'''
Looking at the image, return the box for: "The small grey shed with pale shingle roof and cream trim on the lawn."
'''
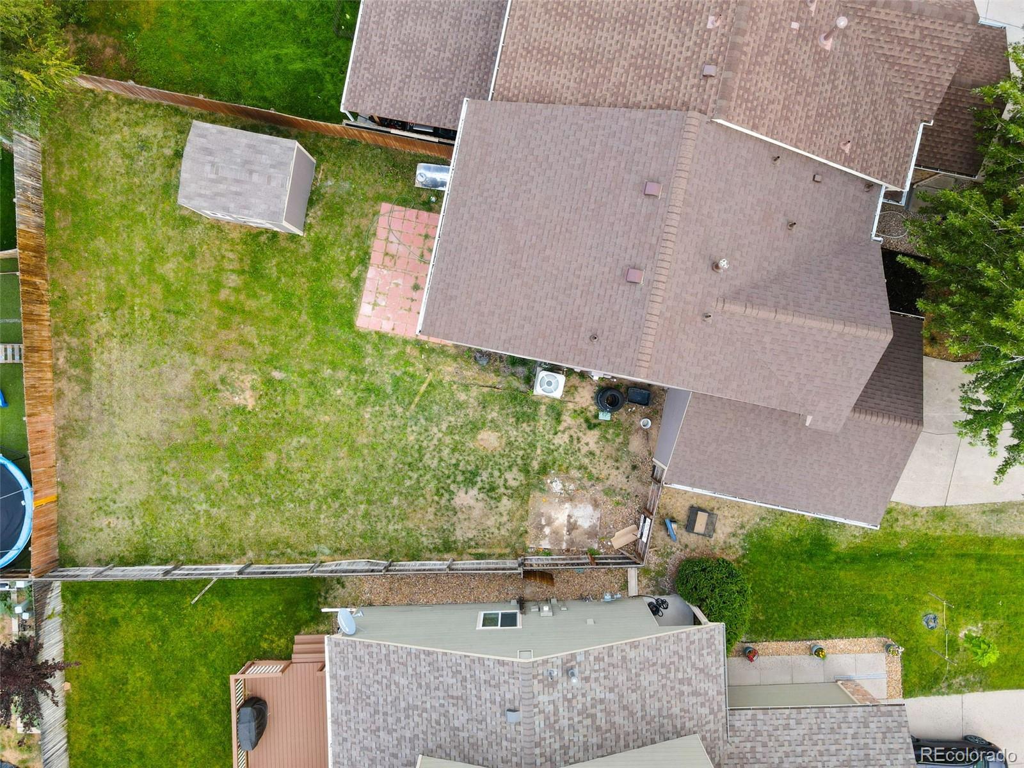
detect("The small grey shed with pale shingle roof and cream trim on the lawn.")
[178,121,316,235]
